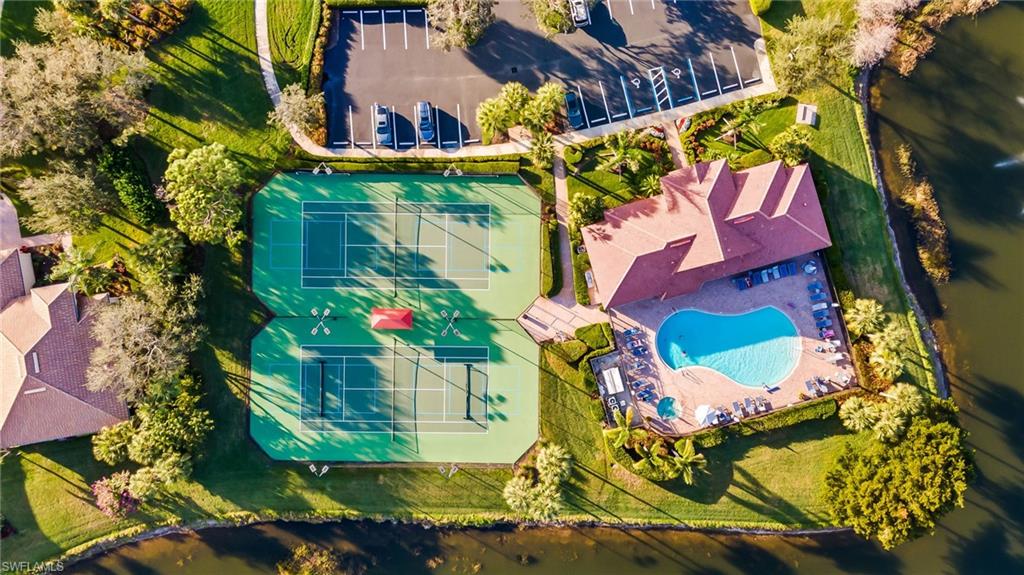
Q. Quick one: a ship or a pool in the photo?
pool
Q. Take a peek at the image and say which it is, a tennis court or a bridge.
tennis court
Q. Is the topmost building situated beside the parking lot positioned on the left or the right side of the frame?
right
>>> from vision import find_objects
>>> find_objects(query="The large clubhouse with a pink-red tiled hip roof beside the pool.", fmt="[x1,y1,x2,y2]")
[582,158,831,308]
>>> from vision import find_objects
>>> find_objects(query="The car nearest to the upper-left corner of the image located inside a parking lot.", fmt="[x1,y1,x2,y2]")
[374,105,391,145]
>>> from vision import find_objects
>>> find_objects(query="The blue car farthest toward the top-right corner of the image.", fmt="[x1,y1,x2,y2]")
[563,89,584,129]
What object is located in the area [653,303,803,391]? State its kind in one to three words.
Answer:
swimming pool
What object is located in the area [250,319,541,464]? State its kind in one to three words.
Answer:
tennis court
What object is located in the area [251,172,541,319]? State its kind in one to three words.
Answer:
tennis court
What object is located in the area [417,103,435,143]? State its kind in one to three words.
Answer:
car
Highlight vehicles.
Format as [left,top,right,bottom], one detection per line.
[417,103,435,143]
[374,105,391,145]
[570,0,589,27]
[563,89,584,129]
